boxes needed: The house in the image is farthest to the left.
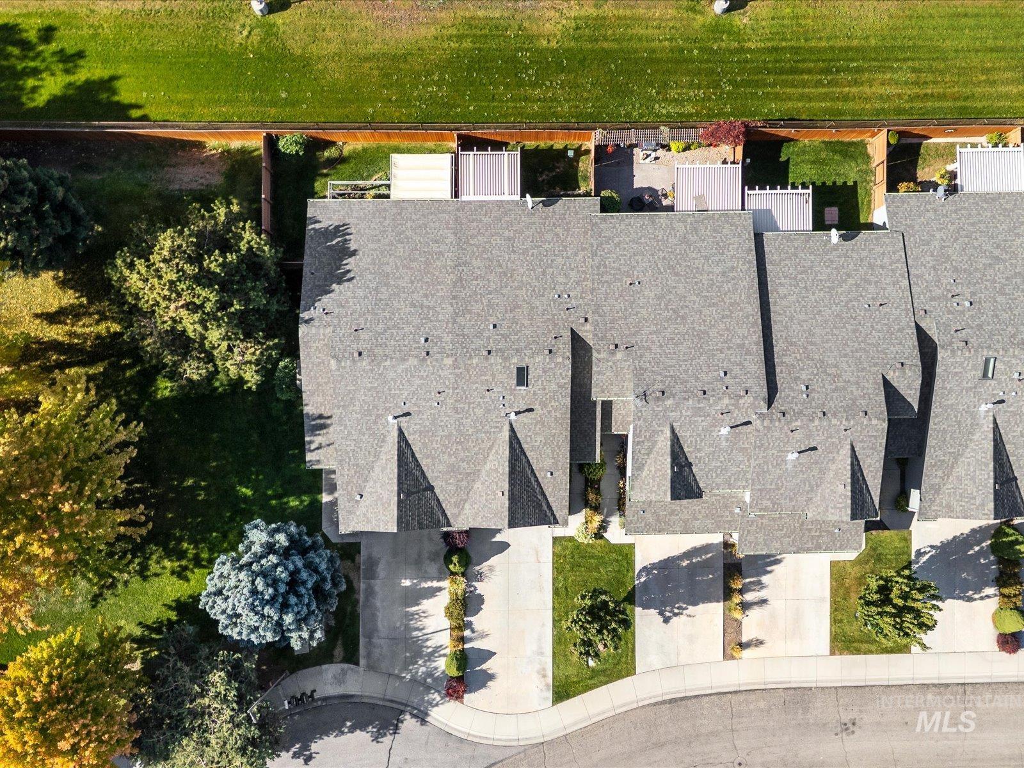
[298,197,602,538]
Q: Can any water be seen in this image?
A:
No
